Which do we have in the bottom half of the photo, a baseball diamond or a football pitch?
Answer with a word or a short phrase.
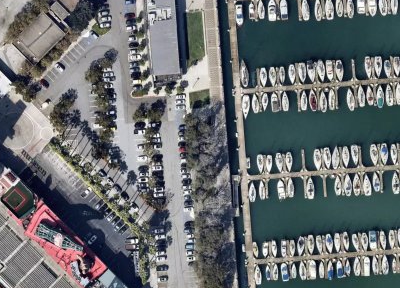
baseball diamond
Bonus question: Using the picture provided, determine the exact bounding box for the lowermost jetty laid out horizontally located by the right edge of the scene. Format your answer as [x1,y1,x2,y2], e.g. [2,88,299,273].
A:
[253,226,400,285]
